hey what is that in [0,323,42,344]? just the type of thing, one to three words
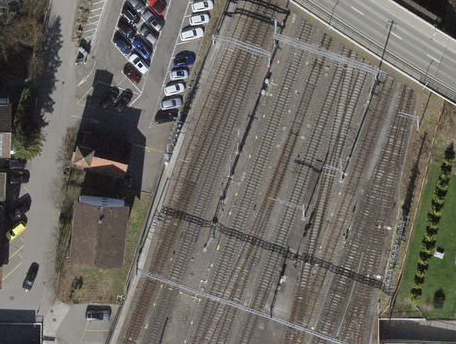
building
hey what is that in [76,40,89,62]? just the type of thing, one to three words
vehicle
